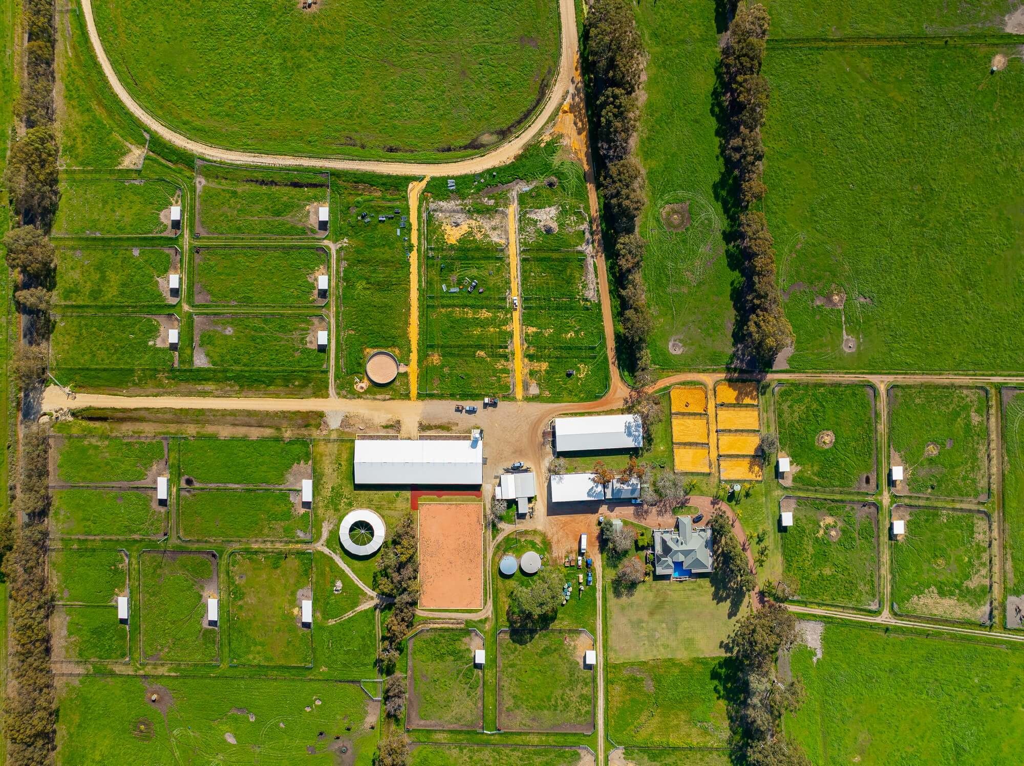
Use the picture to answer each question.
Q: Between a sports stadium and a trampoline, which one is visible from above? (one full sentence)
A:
It is a sports stadium that can be seen here.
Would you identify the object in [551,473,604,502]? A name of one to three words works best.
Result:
barn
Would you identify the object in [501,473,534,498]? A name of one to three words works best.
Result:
shed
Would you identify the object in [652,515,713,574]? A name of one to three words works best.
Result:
house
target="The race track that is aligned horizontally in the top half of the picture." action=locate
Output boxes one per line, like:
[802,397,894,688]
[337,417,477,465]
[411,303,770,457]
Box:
[81,0,577,177]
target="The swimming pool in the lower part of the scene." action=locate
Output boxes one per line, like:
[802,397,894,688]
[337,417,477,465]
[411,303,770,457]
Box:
[673,562,691,577]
